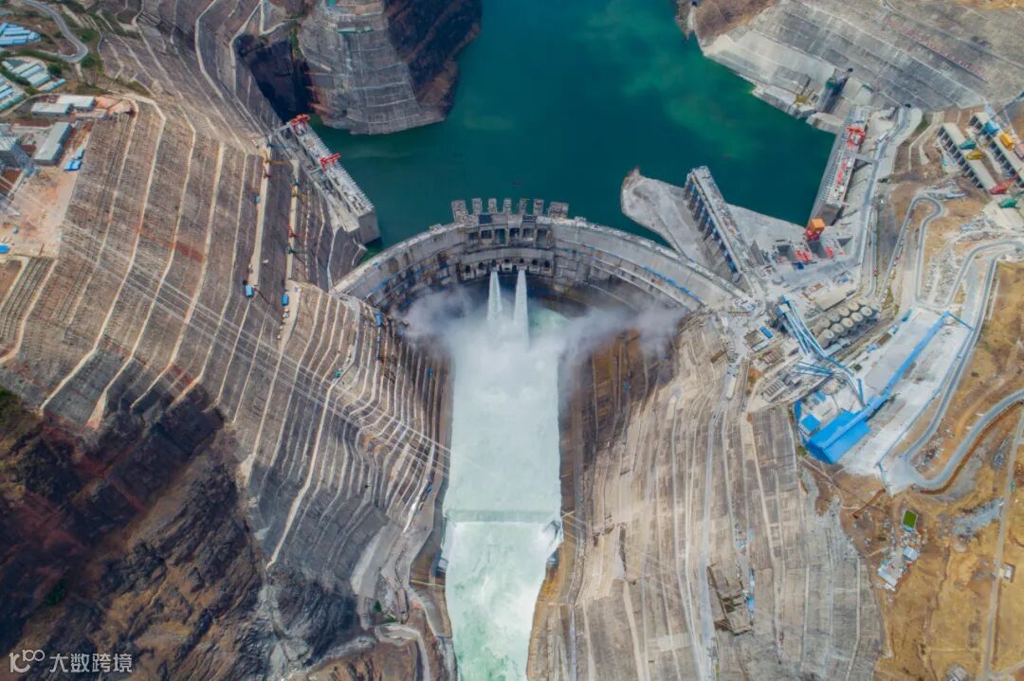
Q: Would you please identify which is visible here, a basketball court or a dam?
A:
dam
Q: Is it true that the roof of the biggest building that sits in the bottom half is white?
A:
No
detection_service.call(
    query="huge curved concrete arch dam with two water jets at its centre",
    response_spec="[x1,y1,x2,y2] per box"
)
[332,203,765,345]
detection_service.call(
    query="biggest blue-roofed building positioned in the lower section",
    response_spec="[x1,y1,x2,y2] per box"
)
[802,412,867,469]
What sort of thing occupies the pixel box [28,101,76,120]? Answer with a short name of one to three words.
building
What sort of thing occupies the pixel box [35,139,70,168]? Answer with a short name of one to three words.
building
